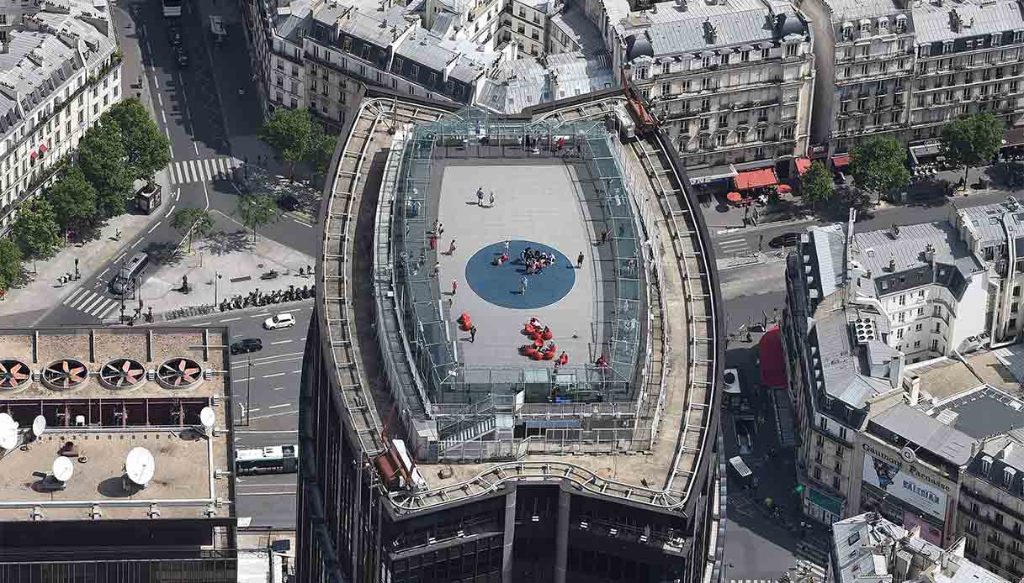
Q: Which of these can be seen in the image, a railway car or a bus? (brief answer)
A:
bus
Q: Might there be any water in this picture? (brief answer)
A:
No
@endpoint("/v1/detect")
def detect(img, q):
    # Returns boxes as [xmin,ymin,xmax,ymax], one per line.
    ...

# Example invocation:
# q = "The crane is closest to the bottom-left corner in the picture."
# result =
[373,407,427,502]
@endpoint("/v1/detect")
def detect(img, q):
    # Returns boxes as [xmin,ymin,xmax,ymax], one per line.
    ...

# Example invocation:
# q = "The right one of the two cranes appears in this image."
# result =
[617,67,661,150]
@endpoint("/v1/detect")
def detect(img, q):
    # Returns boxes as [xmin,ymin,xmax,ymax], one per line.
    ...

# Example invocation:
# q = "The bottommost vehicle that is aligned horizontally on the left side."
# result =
[234,448,297,481]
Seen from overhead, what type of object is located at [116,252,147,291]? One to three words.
van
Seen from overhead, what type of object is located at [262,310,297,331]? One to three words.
car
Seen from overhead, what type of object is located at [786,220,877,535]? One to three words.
building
